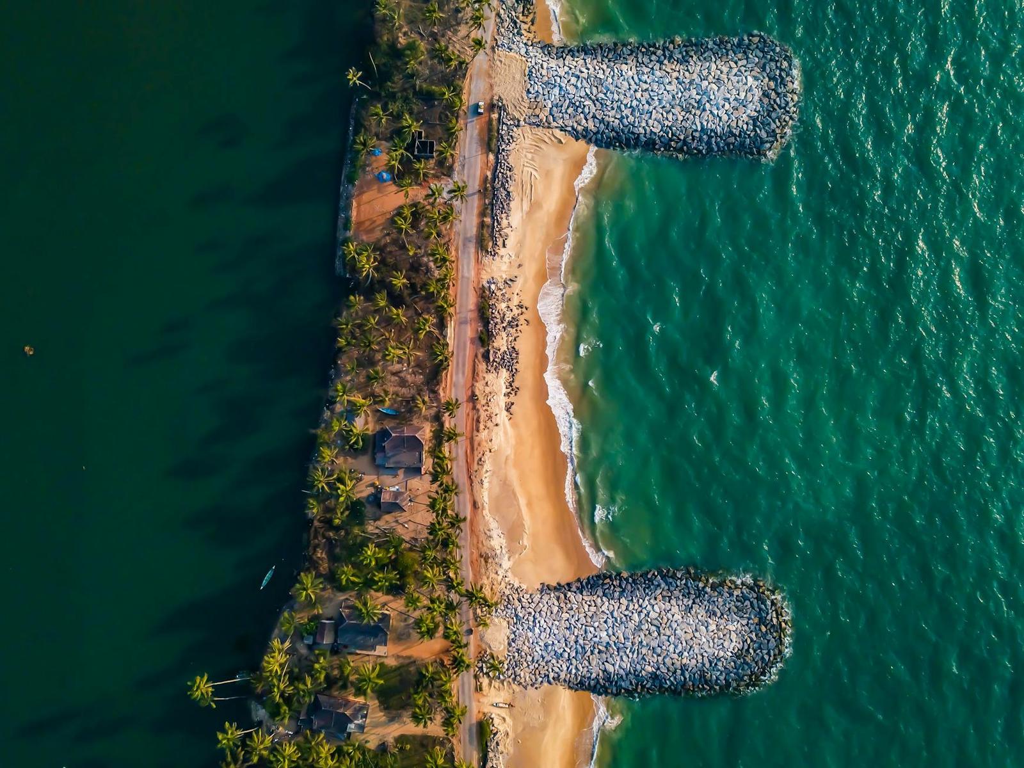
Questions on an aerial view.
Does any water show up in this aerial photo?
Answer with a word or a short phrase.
Yes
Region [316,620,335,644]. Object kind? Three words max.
shed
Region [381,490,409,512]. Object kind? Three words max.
house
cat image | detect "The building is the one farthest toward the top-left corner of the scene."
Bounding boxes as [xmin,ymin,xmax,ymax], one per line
[414,129,435,156]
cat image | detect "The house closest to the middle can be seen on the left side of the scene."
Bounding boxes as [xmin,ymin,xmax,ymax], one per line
[376,425,425,476]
